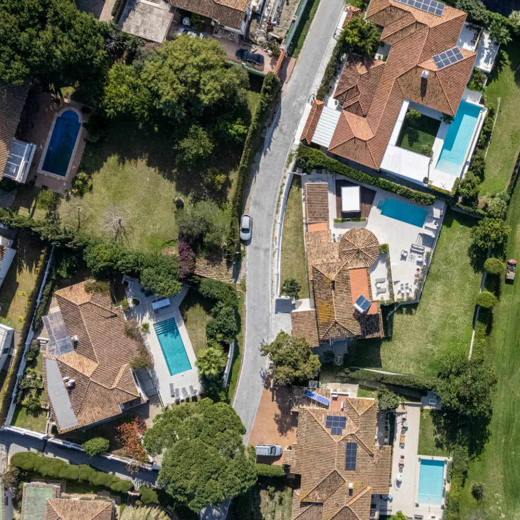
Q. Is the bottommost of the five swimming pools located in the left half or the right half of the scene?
right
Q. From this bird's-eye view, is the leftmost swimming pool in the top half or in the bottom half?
top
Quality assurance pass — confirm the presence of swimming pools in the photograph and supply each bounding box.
[434,99,483,178]
[375,197,430,229]
[37,107,83,180]
[415,457,448,508]
[152,316,194,378]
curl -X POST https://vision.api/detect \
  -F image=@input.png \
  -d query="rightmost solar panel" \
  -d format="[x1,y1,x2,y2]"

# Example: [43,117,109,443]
[432,46,464,68]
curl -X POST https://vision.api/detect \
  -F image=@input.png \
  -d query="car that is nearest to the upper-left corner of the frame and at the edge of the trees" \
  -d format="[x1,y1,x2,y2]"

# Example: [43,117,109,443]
[178,26,206,43]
